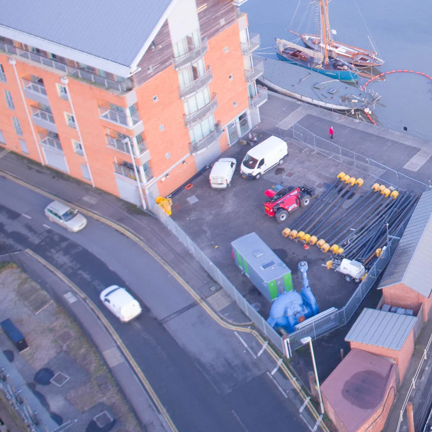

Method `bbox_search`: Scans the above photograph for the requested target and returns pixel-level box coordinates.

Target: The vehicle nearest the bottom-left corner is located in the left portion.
[101,286,136,317]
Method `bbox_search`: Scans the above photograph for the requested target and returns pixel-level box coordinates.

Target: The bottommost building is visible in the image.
[321,349,399,432]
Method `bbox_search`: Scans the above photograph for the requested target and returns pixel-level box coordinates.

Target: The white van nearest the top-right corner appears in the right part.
[245,136,286,176]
